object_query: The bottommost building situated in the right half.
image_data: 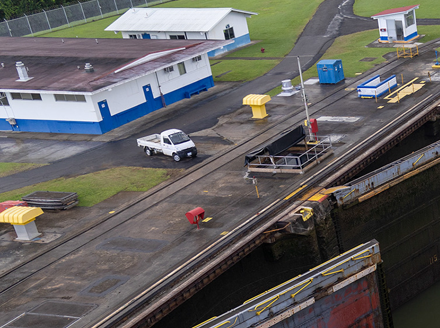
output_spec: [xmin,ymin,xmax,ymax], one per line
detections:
[315,58,350,83]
